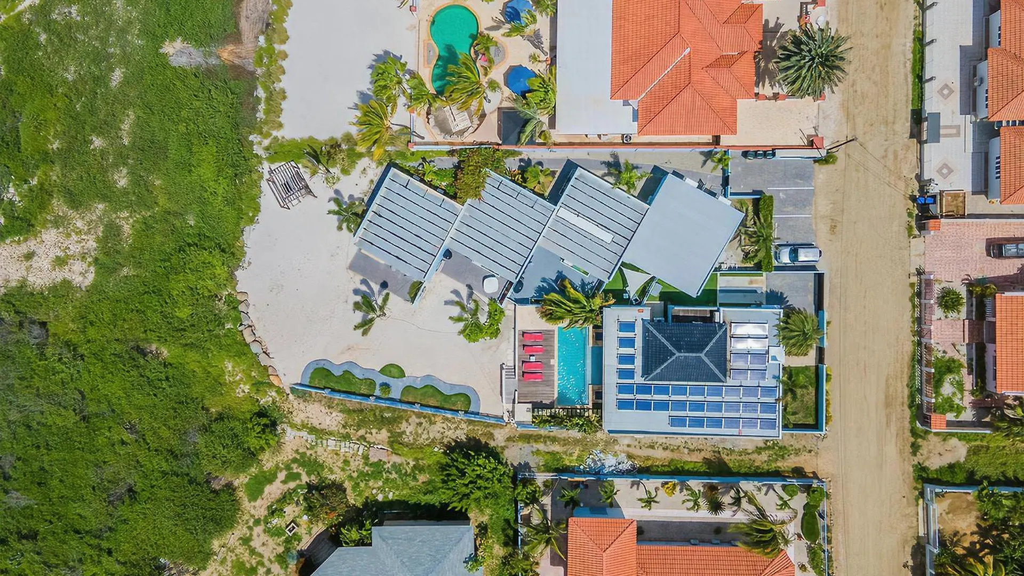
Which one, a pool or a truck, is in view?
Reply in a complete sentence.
The image shows a pool.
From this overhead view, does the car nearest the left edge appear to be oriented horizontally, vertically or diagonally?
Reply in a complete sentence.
In this picture, the car nearest the left edge is oriented horizontally.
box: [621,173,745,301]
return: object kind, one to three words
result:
house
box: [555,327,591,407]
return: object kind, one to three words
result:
swimming pool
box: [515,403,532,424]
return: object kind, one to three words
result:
shed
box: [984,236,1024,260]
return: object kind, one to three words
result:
car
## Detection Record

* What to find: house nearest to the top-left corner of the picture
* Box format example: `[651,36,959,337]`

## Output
[354,167,464,303]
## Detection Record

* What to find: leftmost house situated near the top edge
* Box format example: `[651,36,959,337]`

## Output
[556,0,764,136]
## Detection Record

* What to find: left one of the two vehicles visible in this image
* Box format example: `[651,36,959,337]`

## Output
[772,243,822,267]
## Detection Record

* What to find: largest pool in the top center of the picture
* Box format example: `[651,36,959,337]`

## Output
[423,1,508,102]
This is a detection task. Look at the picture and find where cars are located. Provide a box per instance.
[772,243,822,267]
[984,236,1024,260]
